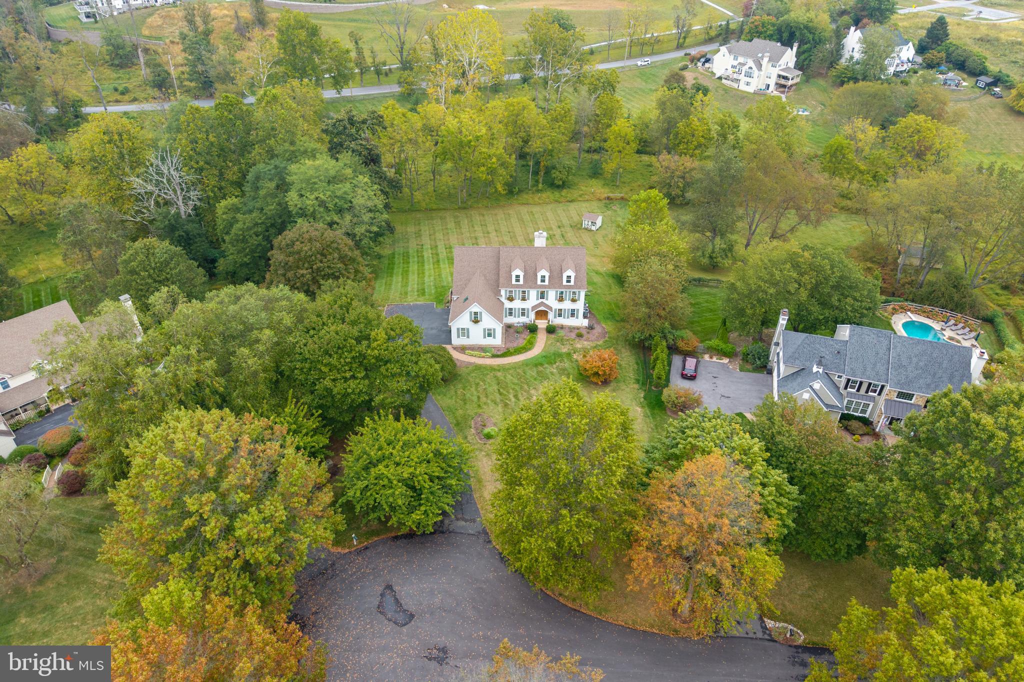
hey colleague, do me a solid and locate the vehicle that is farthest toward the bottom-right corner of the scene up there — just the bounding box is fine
[682,353,700,377]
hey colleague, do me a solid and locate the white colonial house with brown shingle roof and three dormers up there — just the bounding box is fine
[447,231,587,345]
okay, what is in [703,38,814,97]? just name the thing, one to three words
house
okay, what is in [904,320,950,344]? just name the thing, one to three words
swimming pool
